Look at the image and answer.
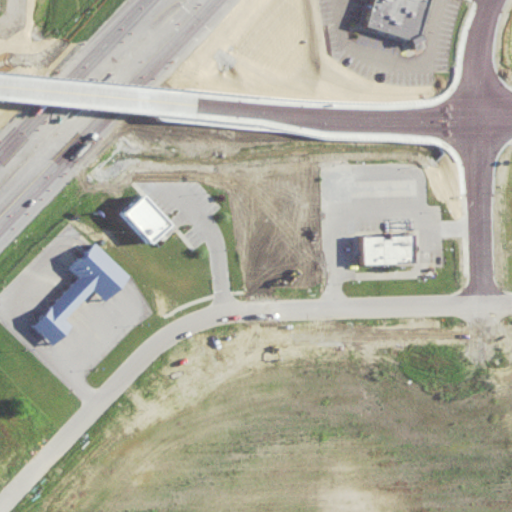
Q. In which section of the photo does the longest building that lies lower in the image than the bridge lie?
left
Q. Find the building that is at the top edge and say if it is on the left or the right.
right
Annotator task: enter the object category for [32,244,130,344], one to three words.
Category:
building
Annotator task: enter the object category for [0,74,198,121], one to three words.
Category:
bridge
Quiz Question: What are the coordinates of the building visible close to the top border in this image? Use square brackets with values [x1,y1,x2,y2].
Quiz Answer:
[363,0,432,57]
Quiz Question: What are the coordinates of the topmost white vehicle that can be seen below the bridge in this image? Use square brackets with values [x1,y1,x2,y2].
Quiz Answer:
[72,134,98,162]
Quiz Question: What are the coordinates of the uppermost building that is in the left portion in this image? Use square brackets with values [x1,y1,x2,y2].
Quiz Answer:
[122,196,174,244]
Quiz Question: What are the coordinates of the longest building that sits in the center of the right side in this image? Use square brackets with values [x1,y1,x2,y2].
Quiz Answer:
[360,235,416,266]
